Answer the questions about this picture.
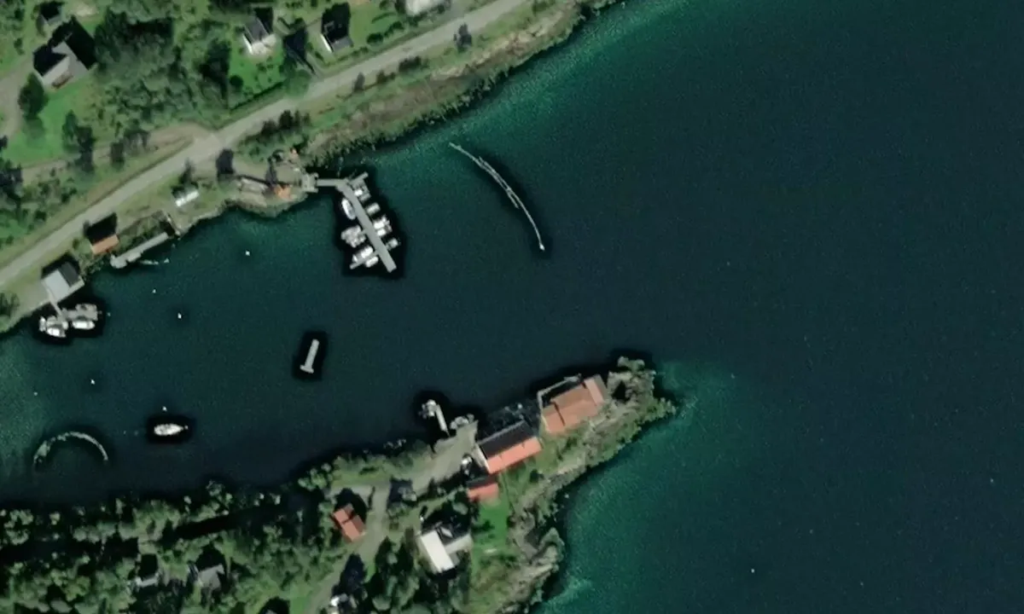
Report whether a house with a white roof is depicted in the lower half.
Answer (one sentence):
Yes, a house with a white roof appears in the lower half.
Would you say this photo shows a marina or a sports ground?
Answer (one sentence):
What you see here is a marina.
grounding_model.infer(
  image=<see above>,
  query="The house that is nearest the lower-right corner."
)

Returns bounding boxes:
[537,375,611,431]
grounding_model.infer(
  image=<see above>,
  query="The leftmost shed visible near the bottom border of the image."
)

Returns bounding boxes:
[132,565,160,585]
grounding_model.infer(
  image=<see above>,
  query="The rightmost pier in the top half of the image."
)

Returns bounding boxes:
[317,172,398,273]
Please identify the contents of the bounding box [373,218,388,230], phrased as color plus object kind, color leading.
white boat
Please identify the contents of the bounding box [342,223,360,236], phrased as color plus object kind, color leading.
white boat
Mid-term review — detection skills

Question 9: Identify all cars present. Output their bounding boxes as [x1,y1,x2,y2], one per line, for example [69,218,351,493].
[461,455,471,467]
[462,465,470,477]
